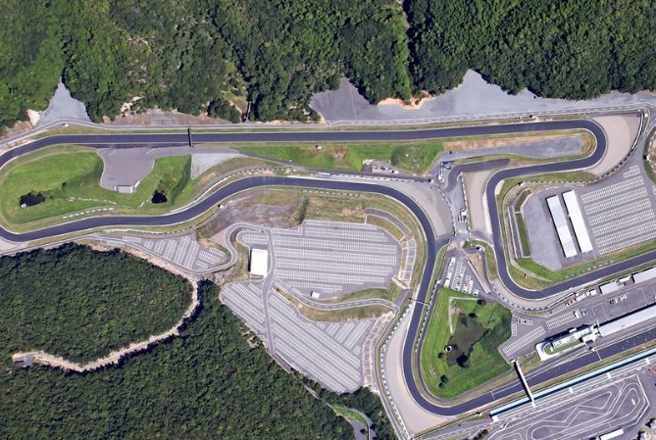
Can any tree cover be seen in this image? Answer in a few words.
Yes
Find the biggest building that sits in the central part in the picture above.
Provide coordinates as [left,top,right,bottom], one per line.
[250,249,268,276]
